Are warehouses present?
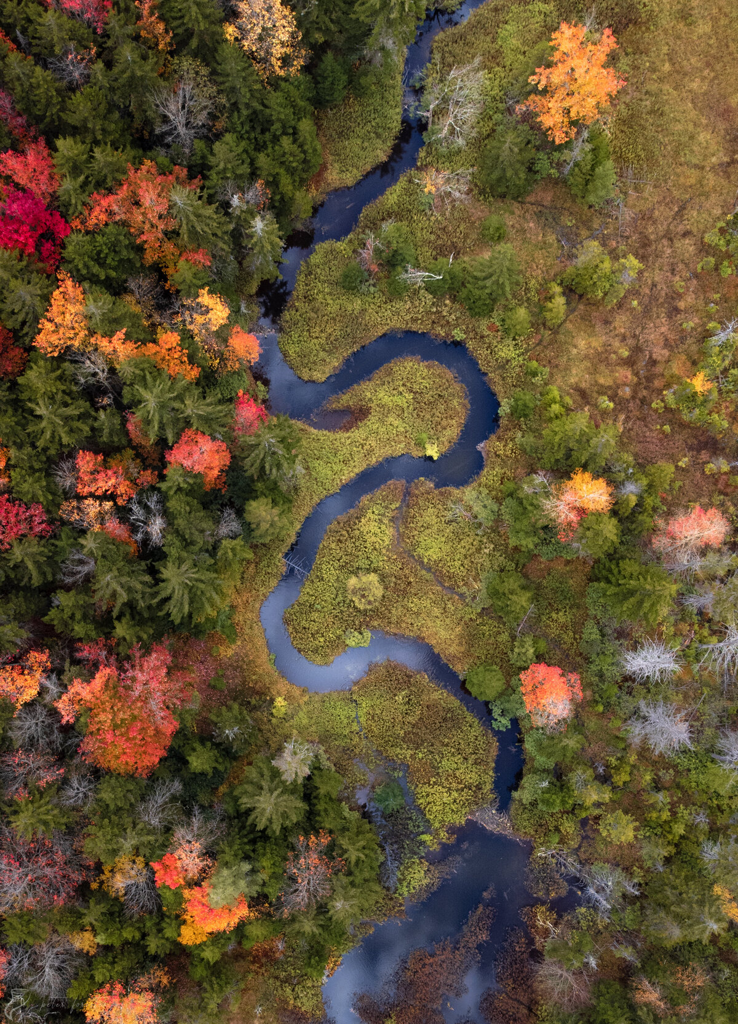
No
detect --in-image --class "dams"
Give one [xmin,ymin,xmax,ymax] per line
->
[470,809,531,846]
